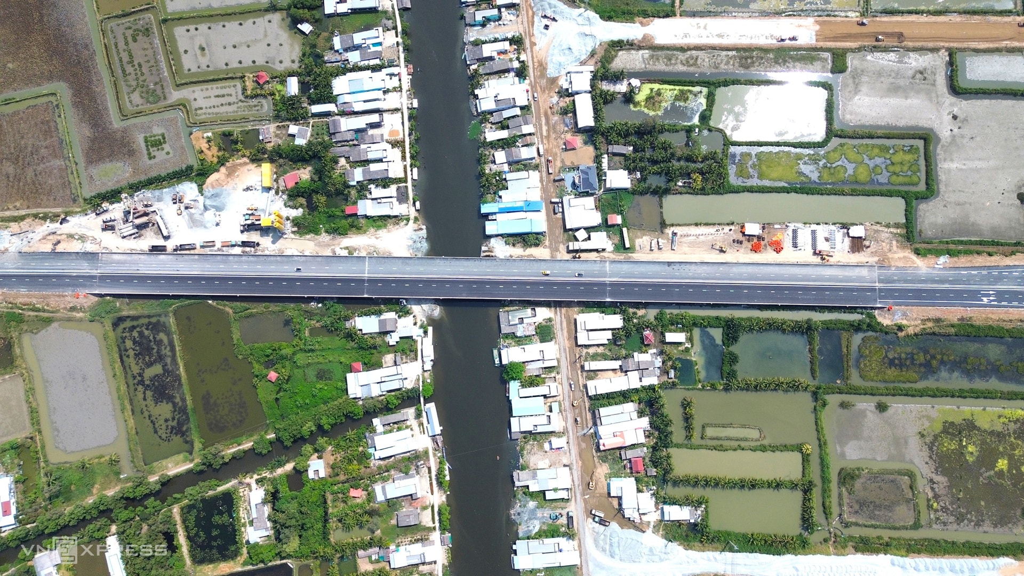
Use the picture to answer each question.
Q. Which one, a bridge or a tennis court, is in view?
bridge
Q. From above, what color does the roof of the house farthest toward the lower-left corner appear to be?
white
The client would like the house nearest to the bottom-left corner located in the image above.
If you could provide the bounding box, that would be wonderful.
[32,544,65,576]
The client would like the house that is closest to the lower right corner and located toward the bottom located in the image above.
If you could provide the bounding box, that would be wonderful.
[659,503,696,522]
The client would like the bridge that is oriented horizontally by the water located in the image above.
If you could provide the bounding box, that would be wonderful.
[95,253,887,307]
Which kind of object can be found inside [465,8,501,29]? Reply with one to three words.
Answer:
house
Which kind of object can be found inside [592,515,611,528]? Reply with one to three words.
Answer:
vehicle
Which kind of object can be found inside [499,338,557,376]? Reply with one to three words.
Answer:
house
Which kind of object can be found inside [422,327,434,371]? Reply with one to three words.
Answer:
building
